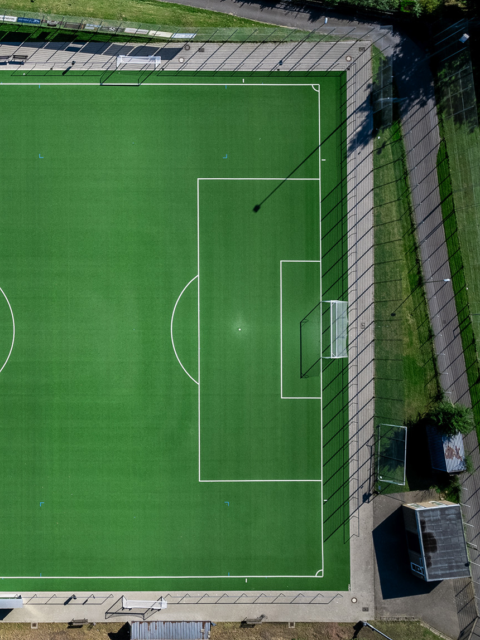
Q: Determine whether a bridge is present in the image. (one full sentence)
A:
No, the scene contains no bridge.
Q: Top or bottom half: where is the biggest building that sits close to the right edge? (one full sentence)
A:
The bottom half of the photo is where the biggest building that sits close to the right edge is.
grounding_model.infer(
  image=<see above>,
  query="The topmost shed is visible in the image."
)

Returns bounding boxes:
[428,430,465,473]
